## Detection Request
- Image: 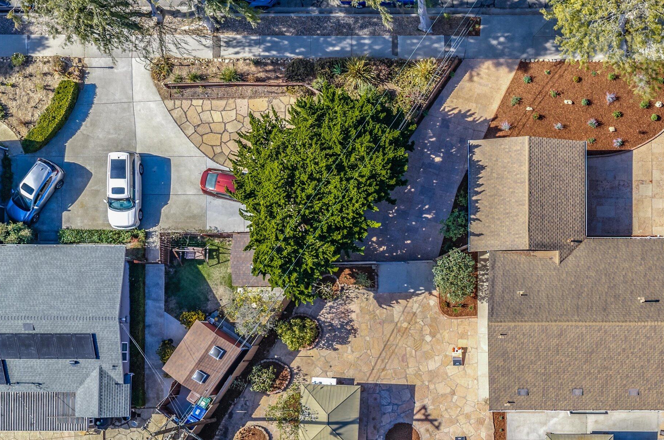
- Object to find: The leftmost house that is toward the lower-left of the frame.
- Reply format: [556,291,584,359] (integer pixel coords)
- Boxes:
[0,244,135,418]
